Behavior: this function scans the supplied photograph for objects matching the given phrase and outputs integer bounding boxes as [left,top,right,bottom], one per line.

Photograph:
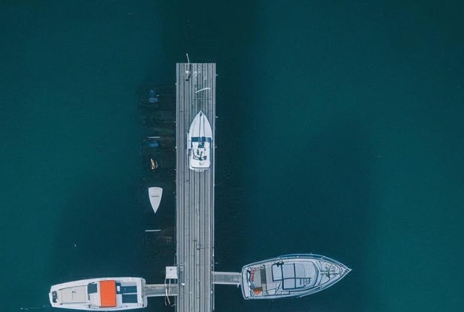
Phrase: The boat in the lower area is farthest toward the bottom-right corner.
[223,254,353,302]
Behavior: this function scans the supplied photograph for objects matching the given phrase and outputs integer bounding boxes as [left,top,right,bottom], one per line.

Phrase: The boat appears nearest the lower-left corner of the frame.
[49,275,164,312]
